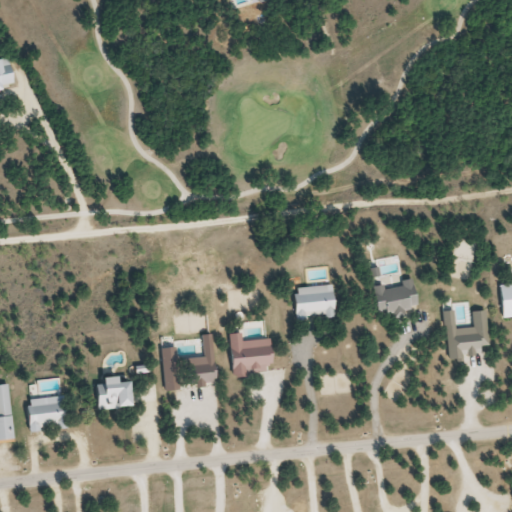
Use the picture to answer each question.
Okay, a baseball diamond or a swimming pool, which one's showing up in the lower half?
swimming pool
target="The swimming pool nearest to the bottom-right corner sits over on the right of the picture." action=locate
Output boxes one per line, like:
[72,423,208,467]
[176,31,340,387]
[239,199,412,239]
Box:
[451,302,471,326]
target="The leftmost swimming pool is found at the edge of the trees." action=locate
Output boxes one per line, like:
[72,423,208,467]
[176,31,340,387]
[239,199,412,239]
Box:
[29,378,60,396]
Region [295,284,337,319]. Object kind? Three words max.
house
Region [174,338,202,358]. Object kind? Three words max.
swimming pool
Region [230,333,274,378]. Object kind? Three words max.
house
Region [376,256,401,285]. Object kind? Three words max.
swimming pool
